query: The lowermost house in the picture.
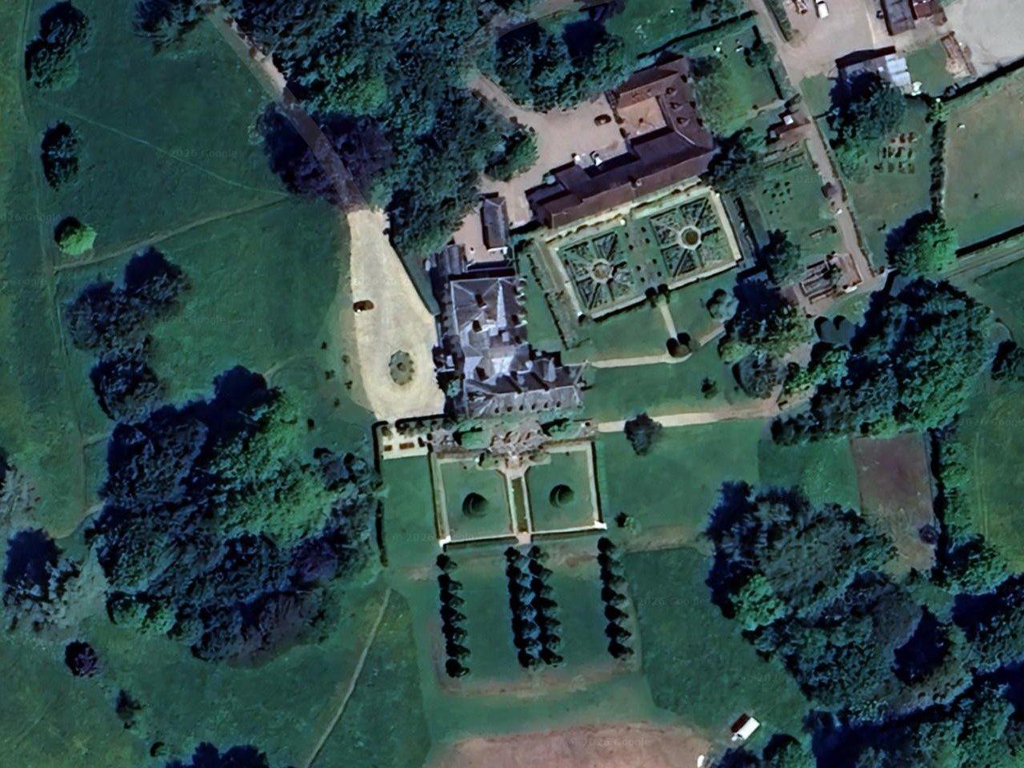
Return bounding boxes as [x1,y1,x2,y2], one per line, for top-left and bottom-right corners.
[441,272,586,423]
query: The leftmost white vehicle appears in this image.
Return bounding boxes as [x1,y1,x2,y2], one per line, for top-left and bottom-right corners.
[592,152,604,168]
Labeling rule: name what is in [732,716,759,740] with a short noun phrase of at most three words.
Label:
truck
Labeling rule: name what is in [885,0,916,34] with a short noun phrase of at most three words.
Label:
barn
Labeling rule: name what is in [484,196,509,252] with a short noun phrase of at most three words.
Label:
building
